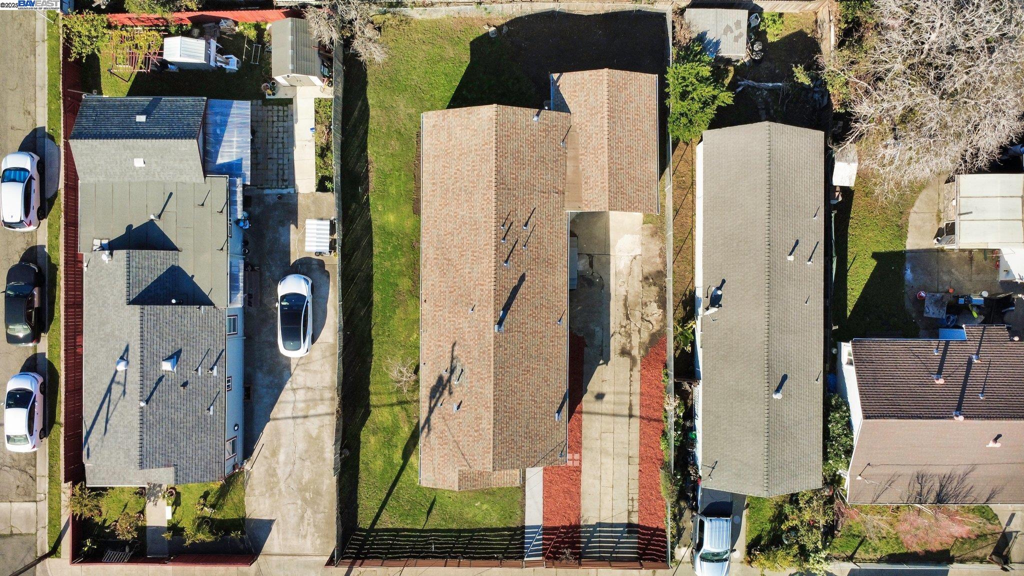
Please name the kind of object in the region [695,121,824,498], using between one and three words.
house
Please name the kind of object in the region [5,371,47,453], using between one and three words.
car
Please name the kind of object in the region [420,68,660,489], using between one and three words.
house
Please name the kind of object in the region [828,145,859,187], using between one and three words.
shed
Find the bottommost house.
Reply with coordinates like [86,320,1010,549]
[837,324,1024,505]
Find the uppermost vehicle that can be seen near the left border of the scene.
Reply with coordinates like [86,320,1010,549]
[1,152,46,232]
